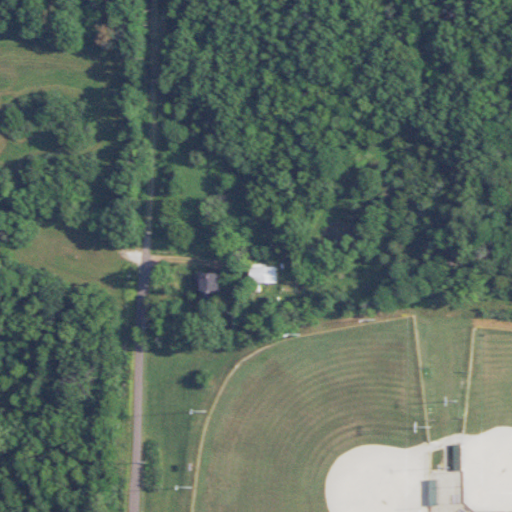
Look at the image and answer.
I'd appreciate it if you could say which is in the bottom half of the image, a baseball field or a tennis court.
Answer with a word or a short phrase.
baseball field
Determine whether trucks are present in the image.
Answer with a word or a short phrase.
No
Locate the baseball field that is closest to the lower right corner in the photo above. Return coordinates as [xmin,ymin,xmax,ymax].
[460,319,512,512]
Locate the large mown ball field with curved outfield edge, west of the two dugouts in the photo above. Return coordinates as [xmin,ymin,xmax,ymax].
[192,314,433,512]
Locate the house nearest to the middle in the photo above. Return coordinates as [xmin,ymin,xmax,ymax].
[249,264,278,284]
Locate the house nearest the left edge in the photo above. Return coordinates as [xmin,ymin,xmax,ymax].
[198,273,220,294]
